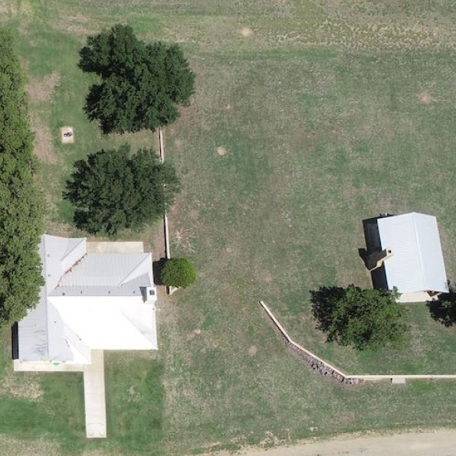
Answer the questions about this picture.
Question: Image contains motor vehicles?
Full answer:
No, I can see no motor vehicle in this picture.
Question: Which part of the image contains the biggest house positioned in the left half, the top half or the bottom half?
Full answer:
It is in the bottom half that the biggest house positioned in the left half appears.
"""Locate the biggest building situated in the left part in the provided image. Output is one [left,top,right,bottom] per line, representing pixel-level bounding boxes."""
[17,233,160,367]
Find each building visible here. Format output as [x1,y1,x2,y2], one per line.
[361,212,449,302]
[17,233,160,367]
